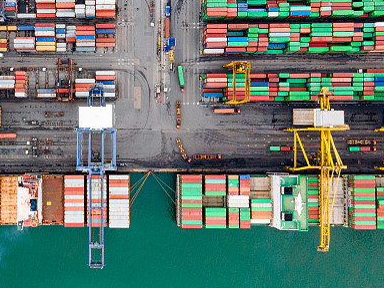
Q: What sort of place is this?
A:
port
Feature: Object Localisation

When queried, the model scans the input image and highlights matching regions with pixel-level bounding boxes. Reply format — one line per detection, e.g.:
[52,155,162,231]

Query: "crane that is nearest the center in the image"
[220,61,250,104]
